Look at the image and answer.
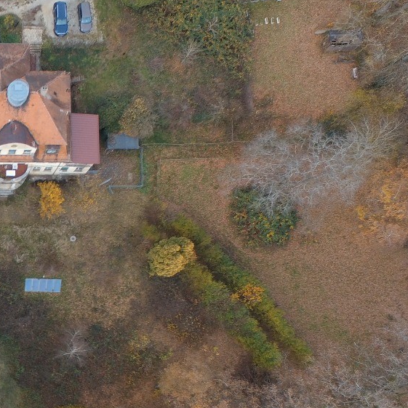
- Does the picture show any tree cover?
Yes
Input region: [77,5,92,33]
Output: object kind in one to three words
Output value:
car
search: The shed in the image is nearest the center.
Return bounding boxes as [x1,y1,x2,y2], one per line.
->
[106,133,139,155]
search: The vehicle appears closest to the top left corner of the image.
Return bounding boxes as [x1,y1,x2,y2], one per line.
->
[52,5,68,35]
